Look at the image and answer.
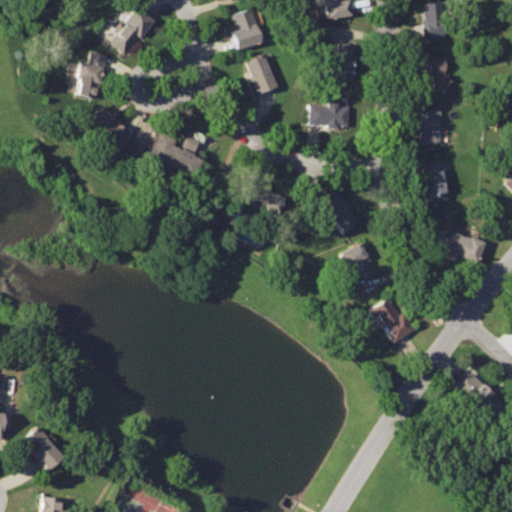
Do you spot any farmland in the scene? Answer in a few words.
No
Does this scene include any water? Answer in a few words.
Yes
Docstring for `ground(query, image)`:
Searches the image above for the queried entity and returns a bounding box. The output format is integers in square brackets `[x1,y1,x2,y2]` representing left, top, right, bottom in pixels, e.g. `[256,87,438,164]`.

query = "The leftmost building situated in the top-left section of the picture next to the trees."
[68,52,103,98]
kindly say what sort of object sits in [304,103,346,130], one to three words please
house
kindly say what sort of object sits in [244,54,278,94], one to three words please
house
